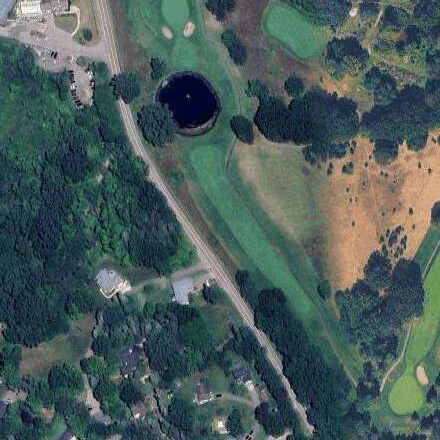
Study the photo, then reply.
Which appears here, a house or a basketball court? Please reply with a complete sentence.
The one in the frame is a house.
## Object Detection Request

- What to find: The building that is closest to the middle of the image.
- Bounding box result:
[175,278,193,303]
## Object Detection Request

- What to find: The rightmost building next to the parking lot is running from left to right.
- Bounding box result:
[40,0,69,14]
